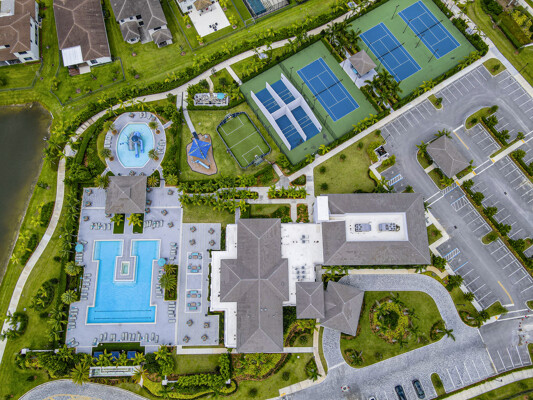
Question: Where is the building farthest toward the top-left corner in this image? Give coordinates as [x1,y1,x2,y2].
[0,0,42,65]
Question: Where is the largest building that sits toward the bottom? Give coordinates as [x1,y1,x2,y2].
[210,193,430,353]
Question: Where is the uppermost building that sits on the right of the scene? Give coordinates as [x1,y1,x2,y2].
[349,50,376,79]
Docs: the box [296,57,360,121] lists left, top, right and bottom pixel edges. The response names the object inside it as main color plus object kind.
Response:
blue tennis court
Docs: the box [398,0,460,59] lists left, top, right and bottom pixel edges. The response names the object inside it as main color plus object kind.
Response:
blue tennis court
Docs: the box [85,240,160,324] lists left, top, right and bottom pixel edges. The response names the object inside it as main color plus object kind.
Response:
blue swimming pool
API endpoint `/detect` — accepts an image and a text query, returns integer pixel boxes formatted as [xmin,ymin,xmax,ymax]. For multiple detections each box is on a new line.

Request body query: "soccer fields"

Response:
[217,110,271,168]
